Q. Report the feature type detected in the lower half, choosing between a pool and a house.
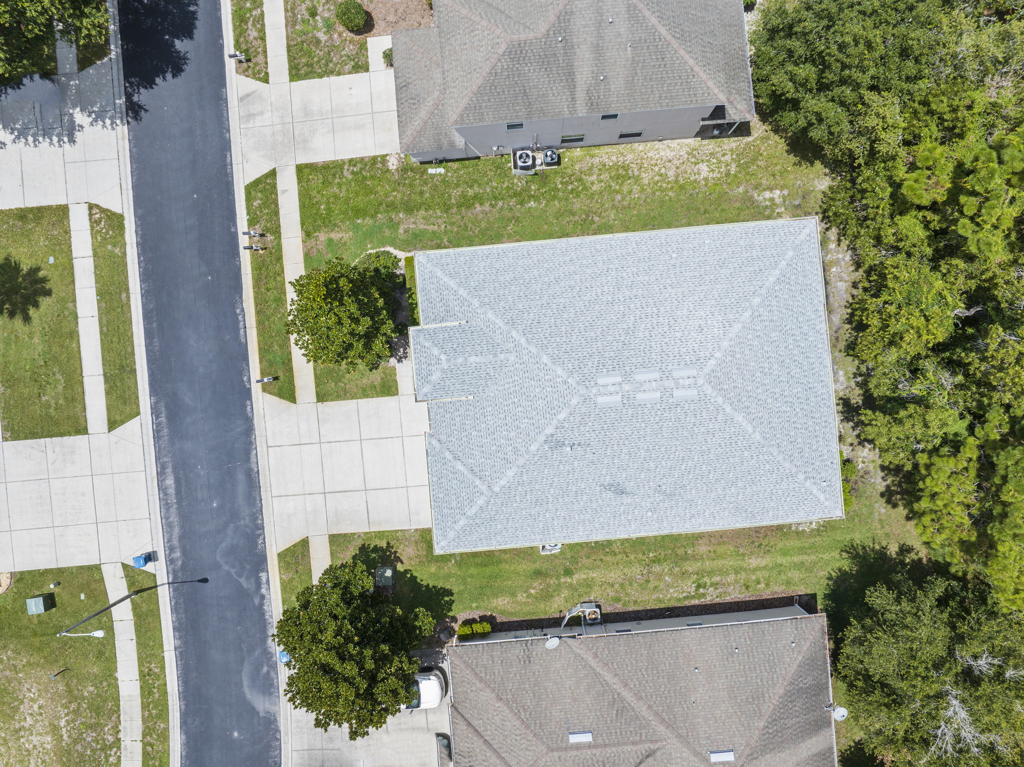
house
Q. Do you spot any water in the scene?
No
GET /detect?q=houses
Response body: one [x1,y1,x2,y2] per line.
[391,0,754,161]
[437,600,837,767]
[409,217,844,553]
